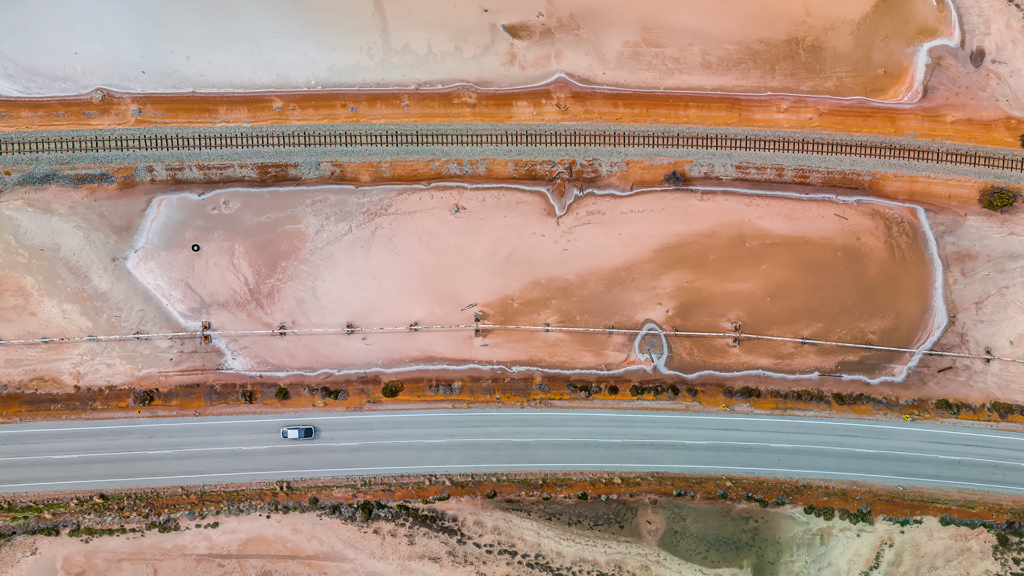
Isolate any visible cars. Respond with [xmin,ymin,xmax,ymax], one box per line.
[278,426,314,443]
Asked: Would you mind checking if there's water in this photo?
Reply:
Yes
